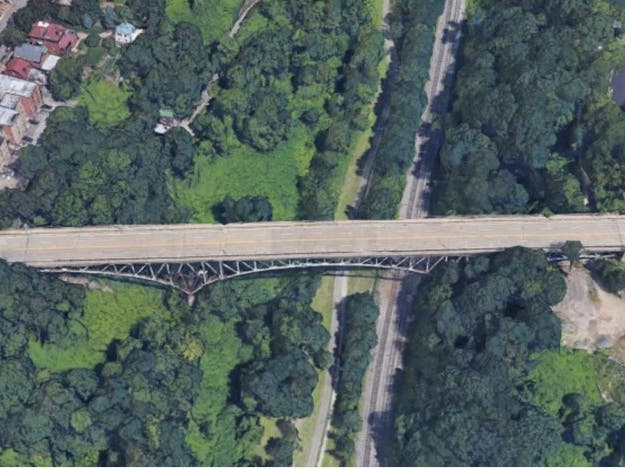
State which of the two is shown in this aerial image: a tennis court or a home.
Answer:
home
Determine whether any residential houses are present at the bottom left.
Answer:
No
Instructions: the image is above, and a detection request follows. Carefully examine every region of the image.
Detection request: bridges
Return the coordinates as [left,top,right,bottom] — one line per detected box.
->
[23,212,625,306]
